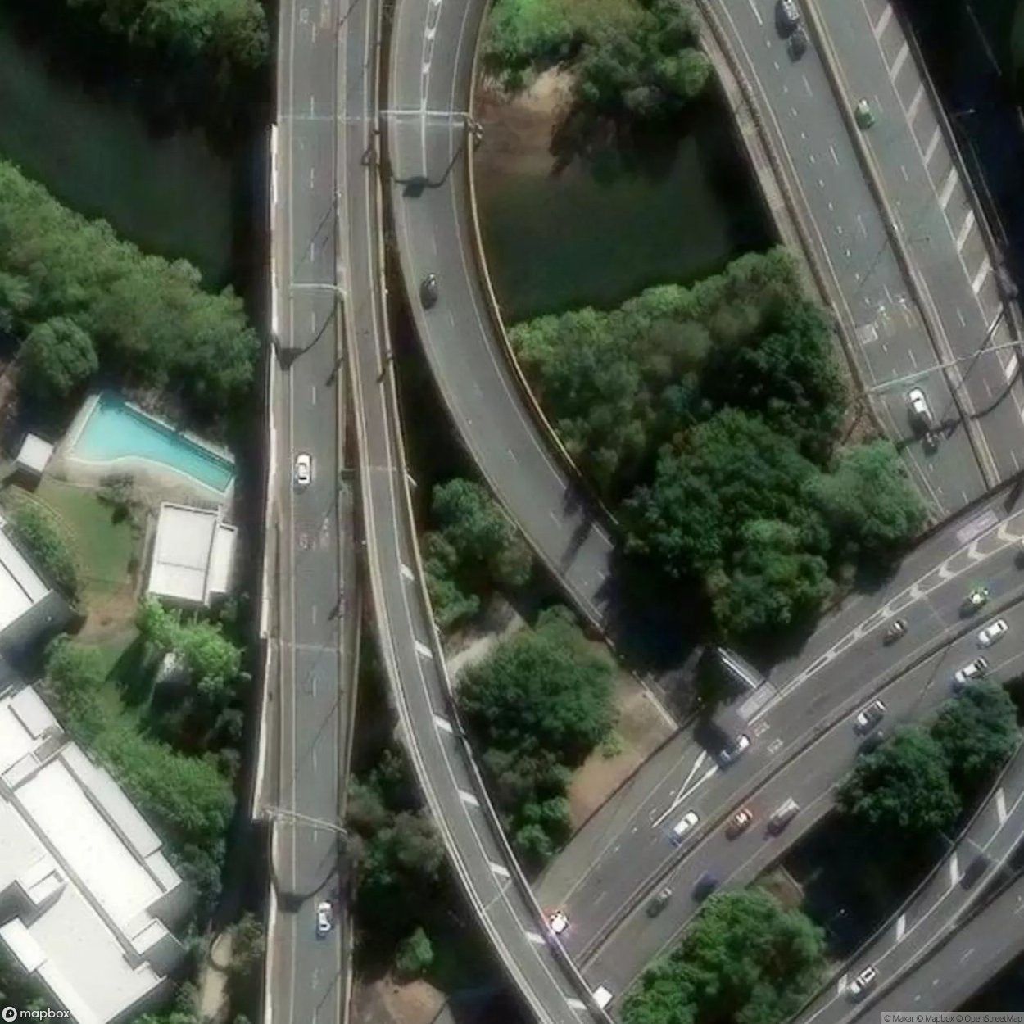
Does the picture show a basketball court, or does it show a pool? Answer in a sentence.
This aerial view contains a pool.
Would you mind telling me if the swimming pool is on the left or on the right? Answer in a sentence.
The swimming pool is on the left side of the image.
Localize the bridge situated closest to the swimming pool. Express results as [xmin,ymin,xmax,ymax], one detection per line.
[265,0,369,1024]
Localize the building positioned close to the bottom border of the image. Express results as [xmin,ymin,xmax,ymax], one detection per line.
[0,686,209,1024]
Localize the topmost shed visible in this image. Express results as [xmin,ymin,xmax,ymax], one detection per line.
[17,433,57,475]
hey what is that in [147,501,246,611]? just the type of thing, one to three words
building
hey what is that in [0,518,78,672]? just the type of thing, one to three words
building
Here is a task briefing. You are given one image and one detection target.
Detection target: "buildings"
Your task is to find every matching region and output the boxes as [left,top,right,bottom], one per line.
[17,433,57,475]
[0,518,78,672]
[0,686,209,1024]
[147,501,246,611]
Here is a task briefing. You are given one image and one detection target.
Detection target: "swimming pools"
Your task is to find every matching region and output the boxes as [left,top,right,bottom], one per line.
[51,389,240,524]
